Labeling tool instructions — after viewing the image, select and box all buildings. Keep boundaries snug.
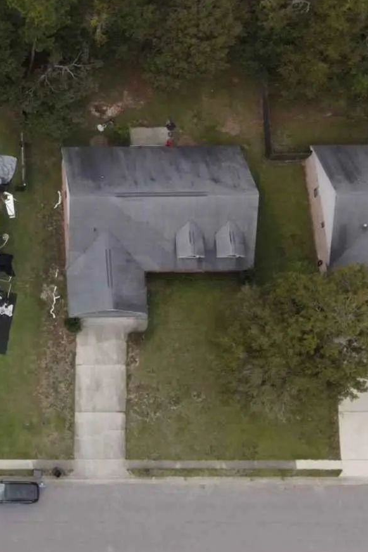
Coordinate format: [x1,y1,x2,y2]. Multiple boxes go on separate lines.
[61,145,259,319]
[300,145,368,316]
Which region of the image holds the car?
bottom left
